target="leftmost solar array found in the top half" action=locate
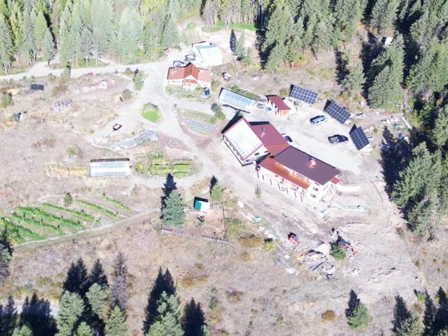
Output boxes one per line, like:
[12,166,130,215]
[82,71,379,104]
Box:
[290,85,318,104]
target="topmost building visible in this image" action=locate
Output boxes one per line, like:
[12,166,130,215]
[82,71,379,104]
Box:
[195,43,222,72]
